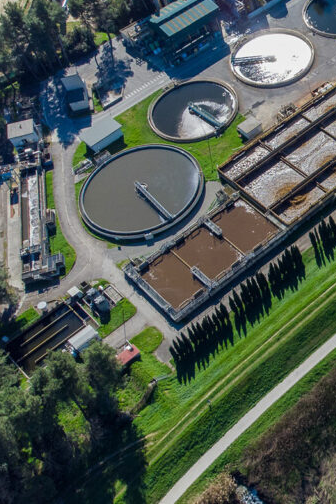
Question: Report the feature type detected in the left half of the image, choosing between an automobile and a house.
house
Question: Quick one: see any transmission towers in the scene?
No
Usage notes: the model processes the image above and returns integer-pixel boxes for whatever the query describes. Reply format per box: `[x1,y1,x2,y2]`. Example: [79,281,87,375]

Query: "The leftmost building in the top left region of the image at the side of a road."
[7,119,38,147]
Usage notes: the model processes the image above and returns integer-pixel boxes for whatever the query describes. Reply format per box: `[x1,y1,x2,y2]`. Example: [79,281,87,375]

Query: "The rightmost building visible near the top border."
[149,0,223,57]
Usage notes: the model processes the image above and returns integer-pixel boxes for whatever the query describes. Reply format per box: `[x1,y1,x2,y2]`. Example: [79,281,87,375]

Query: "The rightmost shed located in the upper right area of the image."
[237,116,263,140]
